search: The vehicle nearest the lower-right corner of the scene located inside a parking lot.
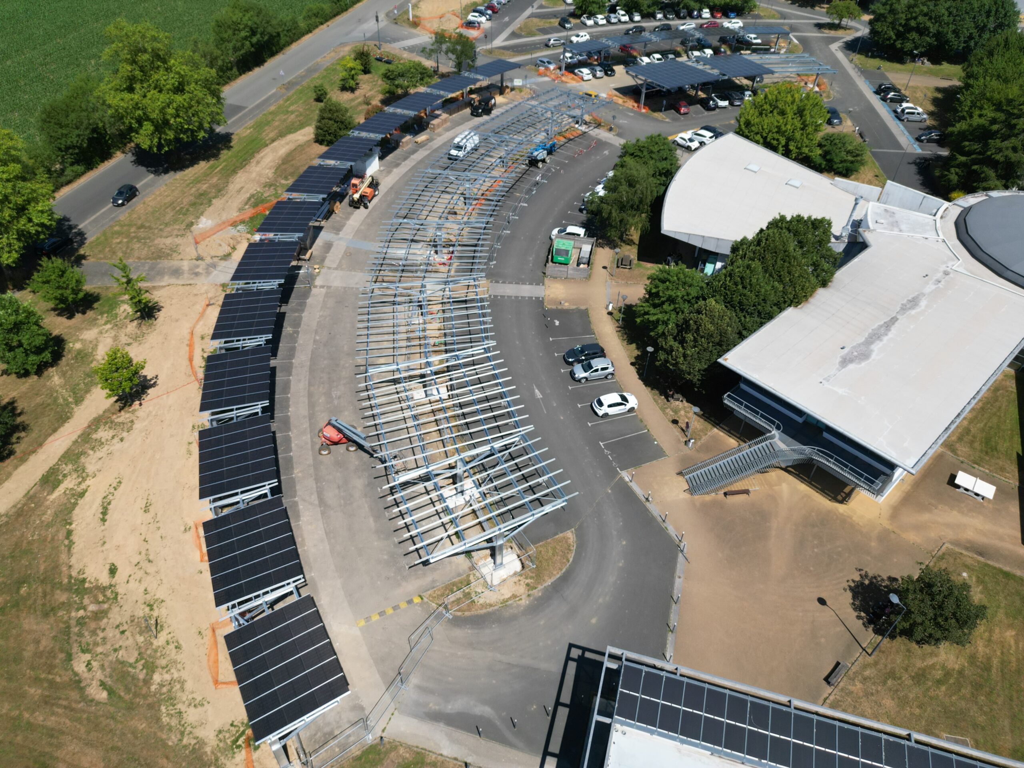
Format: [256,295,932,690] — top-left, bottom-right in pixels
[591,393,639,421]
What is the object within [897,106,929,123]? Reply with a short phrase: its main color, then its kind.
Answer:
gray car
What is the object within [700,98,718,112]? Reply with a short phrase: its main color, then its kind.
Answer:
black car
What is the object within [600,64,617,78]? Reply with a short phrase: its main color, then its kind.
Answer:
black car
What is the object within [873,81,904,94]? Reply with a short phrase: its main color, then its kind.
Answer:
black vehicle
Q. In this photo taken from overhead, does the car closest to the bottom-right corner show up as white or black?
white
